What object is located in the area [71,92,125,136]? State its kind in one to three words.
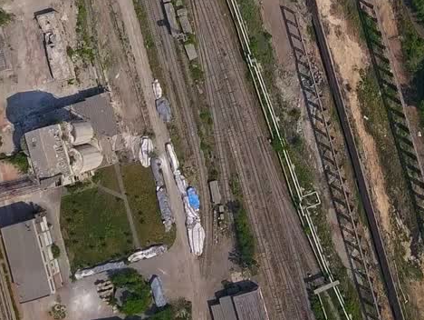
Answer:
building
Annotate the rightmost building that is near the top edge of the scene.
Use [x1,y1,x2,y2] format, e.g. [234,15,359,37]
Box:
[33,8,76,82]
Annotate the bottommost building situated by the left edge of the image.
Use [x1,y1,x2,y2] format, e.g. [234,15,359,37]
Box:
[1,214,66,302]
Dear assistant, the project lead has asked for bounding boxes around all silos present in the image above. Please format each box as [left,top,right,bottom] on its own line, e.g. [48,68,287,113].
[62,142,105,171]
[58,116,95,141]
